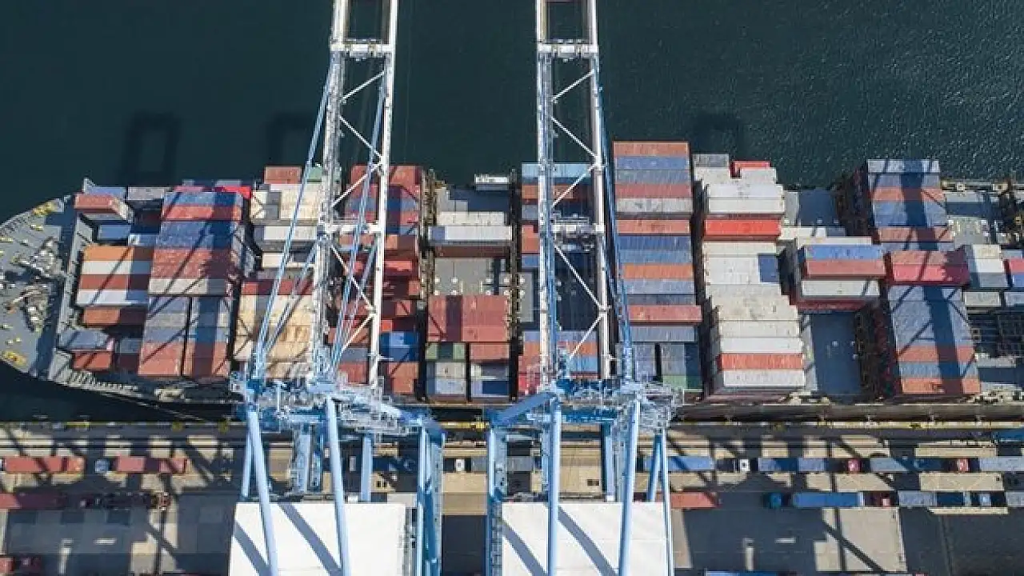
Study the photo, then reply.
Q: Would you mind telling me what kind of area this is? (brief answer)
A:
port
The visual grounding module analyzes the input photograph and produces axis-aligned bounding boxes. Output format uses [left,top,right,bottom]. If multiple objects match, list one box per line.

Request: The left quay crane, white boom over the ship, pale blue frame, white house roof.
[228,0,482,576]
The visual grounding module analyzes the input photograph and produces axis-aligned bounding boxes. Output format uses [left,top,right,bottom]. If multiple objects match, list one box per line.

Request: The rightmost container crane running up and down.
[472,0,685,576]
